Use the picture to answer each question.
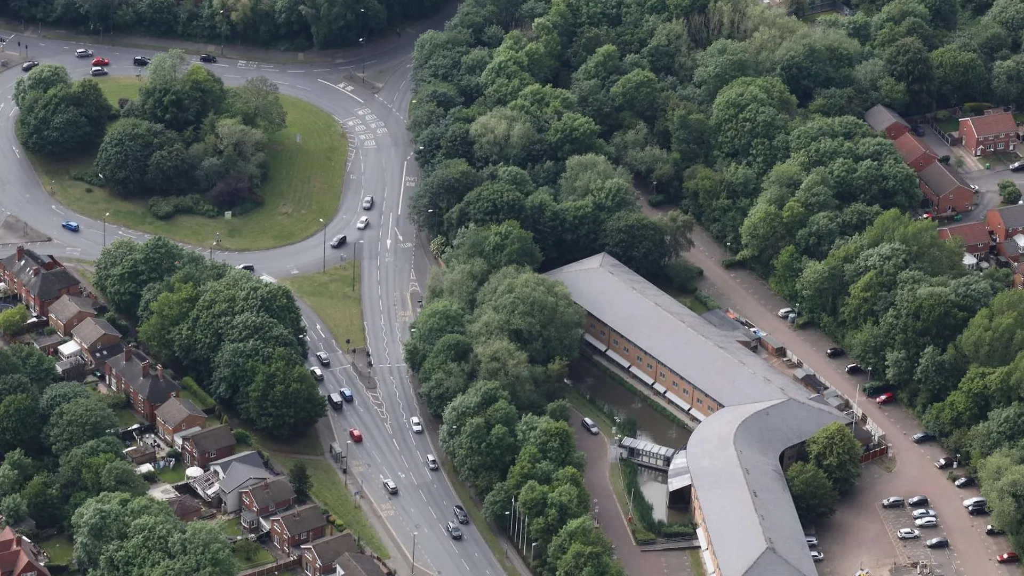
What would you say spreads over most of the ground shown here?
trees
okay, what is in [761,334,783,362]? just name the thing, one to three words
shed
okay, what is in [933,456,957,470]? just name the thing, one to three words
car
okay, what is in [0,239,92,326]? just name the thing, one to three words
house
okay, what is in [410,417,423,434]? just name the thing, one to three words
vehicle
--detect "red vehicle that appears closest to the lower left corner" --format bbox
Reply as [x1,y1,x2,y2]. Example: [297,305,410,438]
[349,429,363,443]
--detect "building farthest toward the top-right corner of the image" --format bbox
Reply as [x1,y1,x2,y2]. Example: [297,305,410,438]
[960,107,1018,156]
